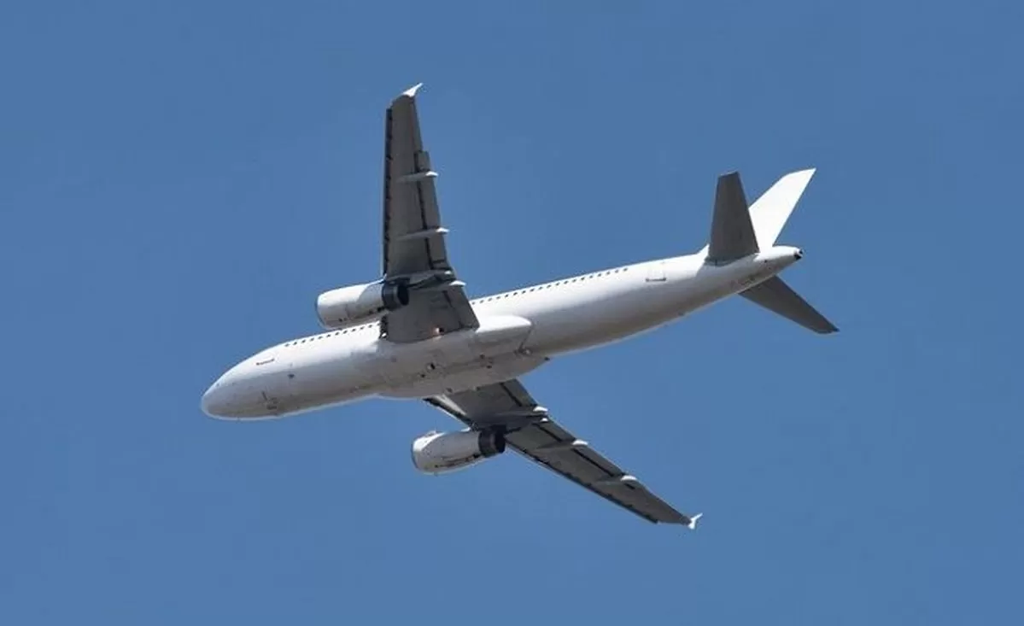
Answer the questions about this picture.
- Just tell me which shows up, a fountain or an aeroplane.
aeroplane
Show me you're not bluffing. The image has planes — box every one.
[203,81,838,529]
